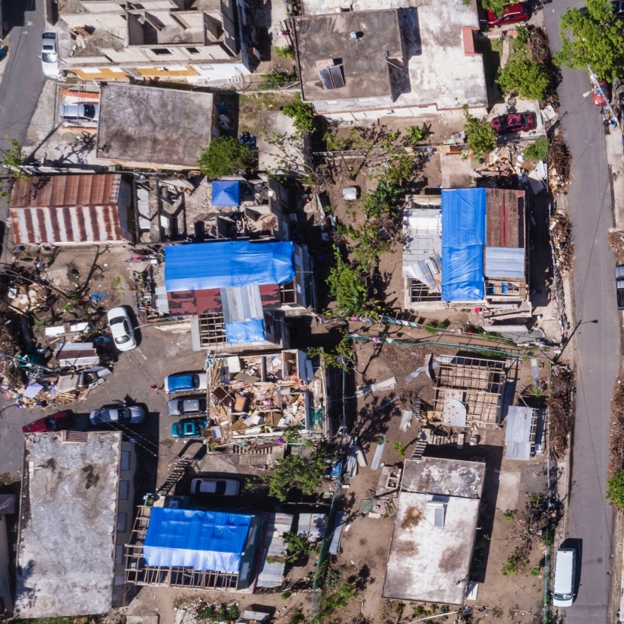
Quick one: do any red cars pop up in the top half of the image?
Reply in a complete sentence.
Yes, in the top half of the image there is a red car.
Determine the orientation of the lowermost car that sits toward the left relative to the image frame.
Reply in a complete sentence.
In this picture, the lowermost car that sits toward the left is oriented from left to right.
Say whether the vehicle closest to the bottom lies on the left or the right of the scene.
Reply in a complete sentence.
The vehicle closest to the bottom appears in the right half of the scene.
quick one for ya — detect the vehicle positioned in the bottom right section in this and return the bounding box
[552,548,576,609]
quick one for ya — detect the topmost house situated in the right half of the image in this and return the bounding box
[293,0,488,127]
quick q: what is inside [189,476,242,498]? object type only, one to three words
car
